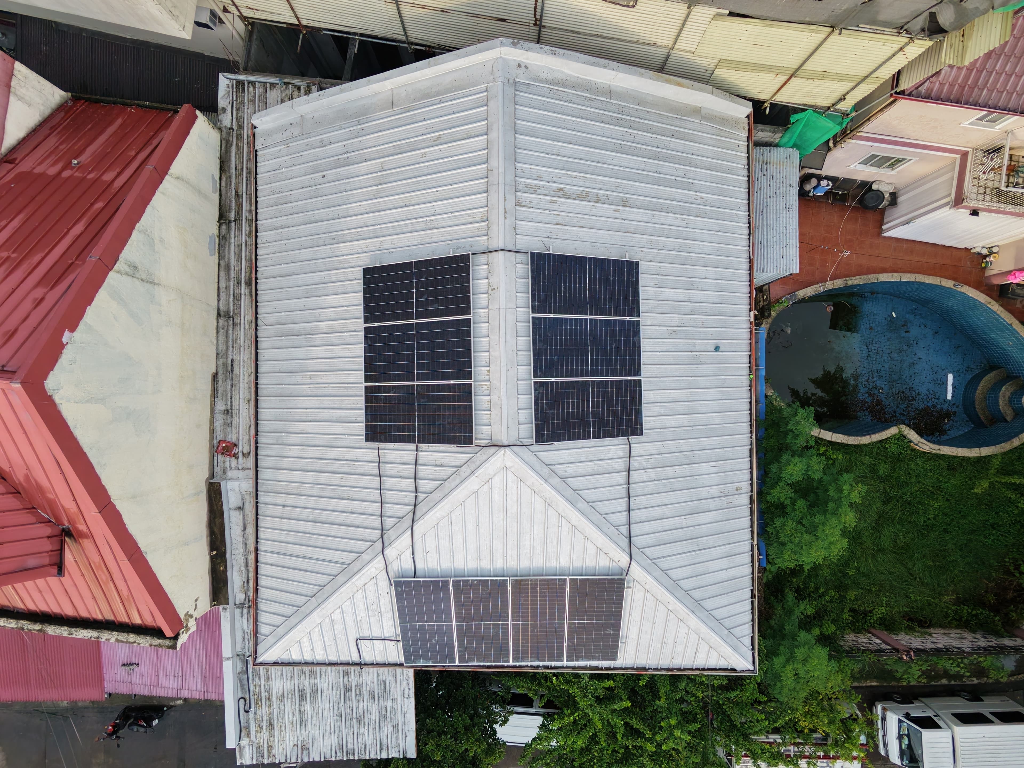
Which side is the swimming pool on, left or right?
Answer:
right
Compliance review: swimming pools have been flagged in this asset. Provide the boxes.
[761,272,1024,458]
